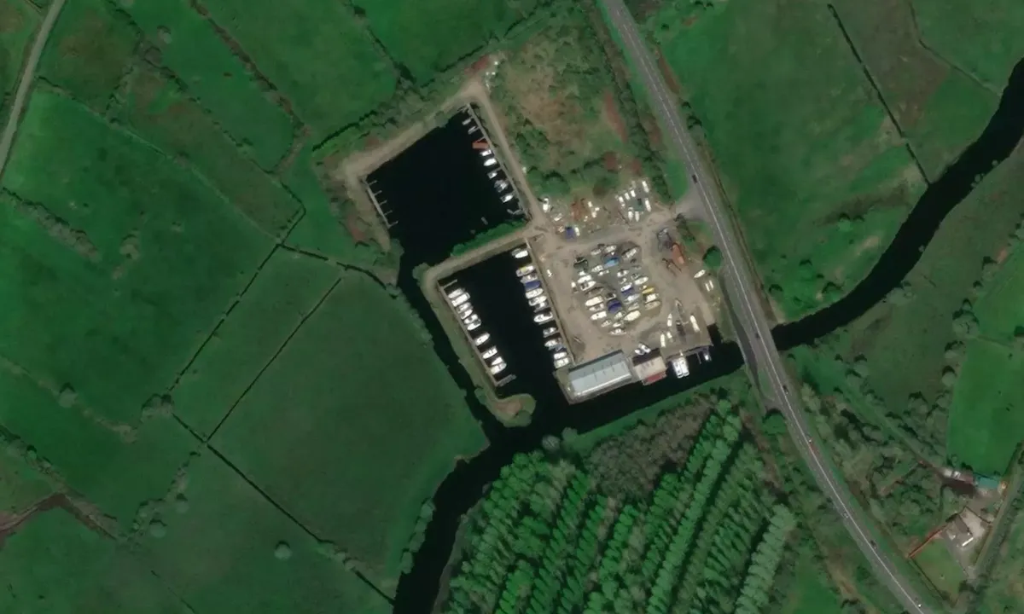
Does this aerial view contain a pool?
No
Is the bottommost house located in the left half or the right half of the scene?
right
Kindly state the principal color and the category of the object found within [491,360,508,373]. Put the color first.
white boat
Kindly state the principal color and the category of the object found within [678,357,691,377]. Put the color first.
white boat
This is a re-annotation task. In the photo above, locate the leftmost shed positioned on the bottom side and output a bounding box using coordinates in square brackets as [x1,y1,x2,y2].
[570,353,632,397]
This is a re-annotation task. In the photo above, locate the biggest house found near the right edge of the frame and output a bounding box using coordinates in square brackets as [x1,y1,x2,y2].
[945,515,973,545]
